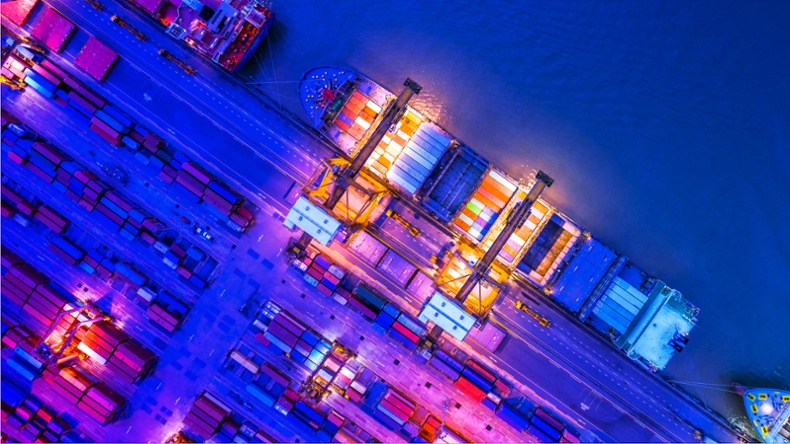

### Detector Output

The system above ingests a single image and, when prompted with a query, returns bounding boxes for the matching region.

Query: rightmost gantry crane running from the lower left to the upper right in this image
[413,166,557,354]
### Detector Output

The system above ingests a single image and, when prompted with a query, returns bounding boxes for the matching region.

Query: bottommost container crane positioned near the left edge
[24,303,110,372]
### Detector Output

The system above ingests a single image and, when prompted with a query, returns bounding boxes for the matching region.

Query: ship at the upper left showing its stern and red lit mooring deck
[134,0,272,69]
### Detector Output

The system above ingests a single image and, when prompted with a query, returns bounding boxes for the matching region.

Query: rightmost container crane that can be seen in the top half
[280,73,427,262]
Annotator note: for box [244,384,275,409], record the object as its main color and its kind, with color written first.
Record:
blue shipping container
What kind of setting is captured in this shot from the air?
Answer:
port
